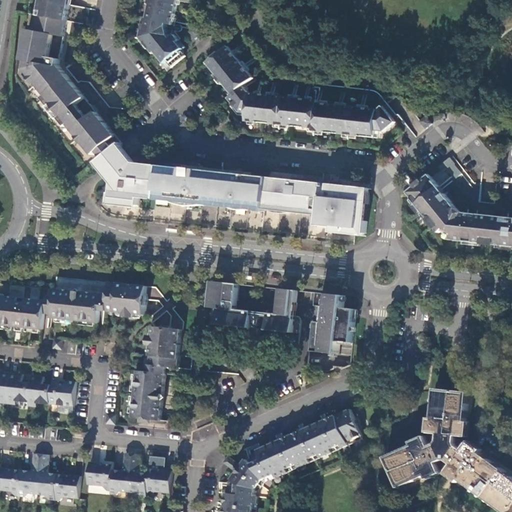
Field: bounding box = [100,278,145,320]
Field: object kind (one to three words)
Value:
house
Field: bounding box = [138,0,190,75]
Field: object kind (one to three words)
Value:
building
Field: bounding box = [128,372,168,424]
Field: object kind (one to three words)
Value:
house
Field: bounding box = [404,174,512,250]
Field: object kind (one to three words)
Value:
building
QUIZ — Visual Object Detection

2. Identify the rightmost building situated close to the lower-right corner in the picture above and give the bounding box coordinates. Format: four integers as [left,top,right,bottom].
[380,388,512,512]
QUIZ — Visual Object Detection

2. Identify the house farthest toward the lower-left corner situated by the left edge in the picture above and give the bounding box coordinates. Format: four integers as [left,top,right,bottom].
[0,454,85,505]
